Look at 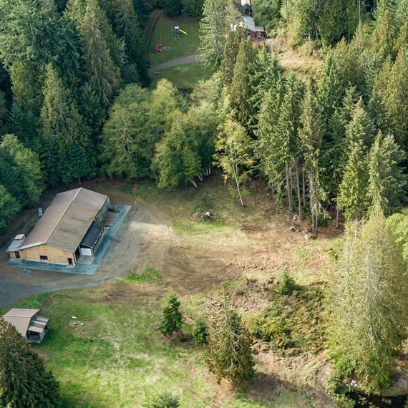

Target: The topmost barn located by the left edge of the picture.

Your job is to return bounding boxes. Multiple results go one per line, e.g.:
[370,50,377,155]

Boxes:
[5,186,110,273]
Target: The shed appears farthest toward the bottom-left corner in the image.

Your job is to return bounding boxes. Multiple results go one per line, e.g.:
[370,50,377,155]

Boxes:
[2,308,51,342]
